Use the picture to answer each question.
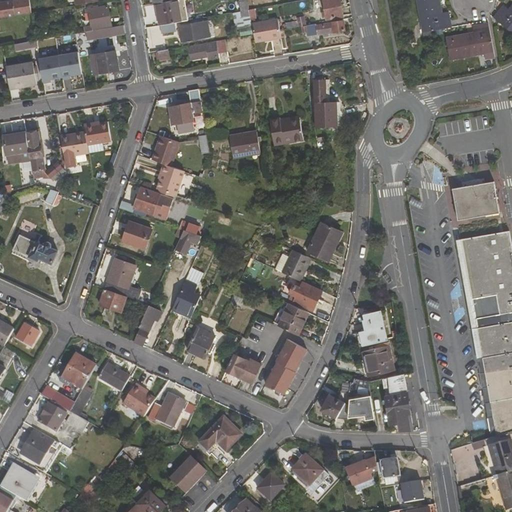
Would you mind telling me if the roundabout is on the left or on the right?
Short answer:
right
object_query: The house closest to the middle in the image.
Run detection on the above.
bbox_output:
[276,250,312,281]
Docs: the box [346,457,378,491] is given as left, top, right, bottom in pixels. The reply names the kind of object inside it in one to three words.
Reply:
house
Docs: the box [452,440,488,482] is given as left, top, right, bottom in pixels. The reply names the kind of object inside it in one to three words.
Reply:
building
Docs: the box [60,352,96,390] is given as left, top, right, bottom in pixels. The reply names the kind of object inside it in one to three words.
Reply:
house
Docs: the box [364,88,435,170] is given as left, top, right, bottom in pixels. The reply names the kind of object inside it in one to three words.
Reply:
roundabout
